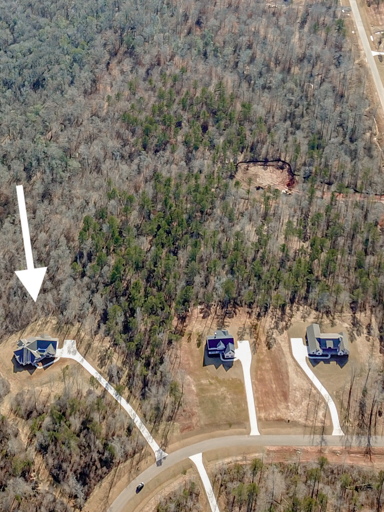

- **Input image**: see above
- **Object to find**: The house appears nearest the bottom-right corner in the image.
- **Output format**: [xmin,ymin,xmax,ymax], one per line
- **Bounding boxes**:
[308,322,349,357]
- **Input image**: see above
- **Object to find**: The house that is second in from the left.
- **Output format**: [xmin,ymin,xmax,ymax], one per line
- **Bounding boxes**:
[206,322,235,358]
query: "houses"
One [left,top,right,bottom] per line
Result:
[308,322,349,357]
[14,329,59,367]
[206,322,235,358]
